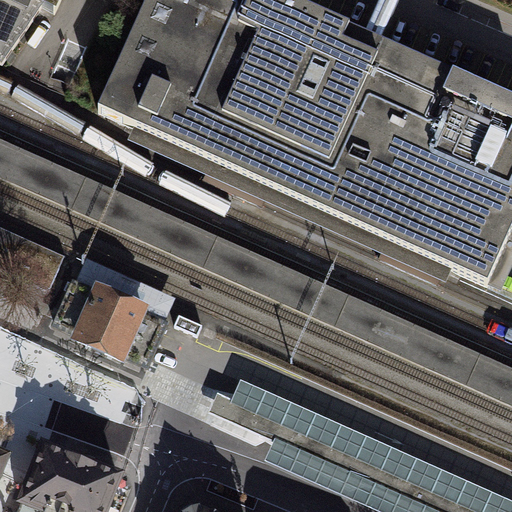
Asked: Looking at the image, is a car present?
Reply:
Yes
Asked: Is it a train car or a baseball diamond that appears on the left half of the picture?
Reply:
train car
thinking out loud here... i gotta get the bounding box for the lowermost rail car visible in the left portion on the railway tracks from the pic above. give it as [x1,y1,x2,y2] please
[158,170,232,216]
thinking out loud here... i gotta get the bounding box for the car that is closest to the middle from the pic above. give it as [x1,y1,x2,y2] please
[154,354,178,370]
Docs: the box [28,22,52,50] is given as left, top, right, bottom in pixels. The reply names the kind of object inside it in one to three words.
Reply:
vehicle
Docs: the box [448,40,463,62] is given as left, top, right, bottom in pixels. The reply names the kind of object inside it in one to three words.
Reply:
car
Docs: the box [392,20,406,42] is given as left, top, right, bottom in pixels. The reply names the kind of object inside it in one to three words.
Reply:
car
